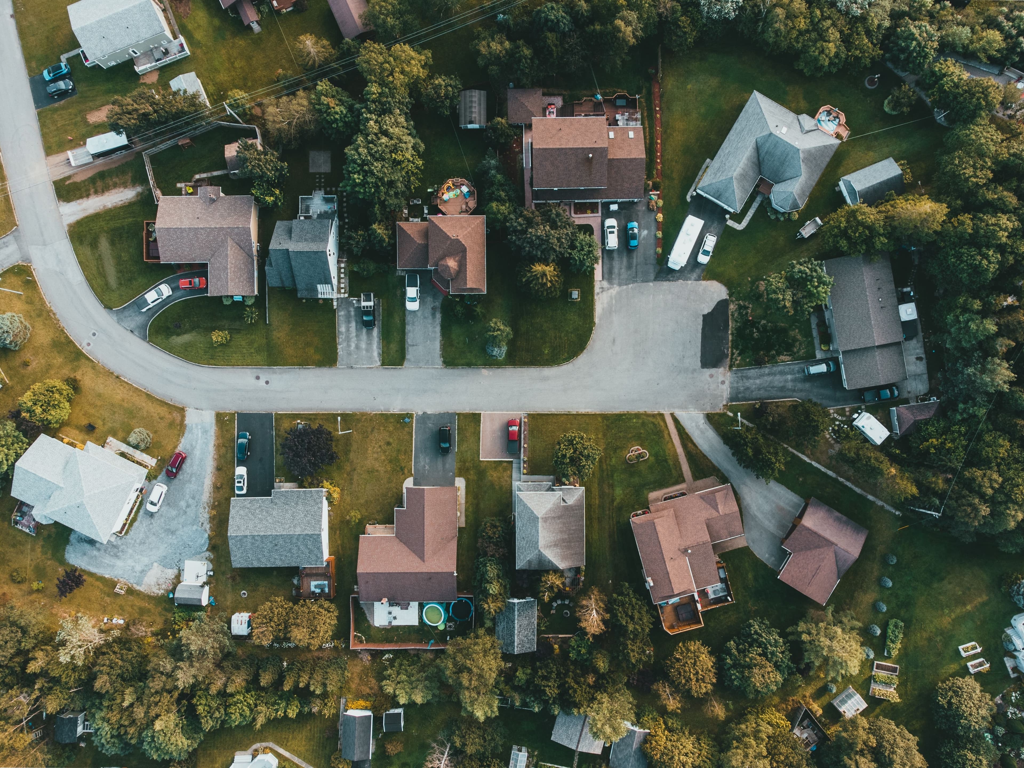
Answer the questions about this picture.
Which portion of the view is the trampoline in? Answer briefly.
bottom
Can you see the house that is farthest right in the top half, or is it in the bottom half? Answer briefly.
bottom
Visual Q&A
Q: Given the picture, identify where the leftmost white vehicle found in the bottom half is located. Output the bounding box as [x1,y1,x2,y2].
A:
[145,482,170,513]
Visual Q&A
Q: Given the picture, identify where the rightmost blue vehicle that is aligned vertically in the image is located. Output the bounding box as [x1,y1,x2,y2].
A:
[626,221,640,250]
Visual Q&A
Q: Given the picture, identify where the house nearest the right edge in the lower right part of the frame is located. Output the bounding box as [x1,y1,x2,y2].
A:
[995,603,1024,648]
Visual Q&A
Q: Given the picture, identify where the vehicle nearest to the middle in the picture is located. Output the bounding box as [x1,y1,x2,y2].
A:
[506,419,521,454]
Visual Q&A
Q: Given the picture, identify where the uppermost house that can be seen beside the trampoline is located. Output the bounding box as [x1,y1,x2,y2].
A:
[356,485,458,606]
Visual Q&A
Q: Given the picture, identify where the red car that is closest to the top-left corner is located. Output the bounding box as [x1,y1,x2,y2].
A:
[178,275,208,290]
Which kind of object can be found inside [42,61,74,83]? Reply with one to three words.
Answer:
car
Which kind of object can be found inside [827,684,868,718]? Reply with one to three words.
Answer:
greenhouse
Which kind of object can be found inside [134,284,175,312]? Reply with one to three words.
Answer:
vehicle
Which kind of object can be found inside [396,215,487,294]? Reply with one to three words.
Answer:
house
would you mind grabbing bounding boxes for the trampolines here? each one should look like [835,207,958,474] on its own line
[450,597,473,621]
